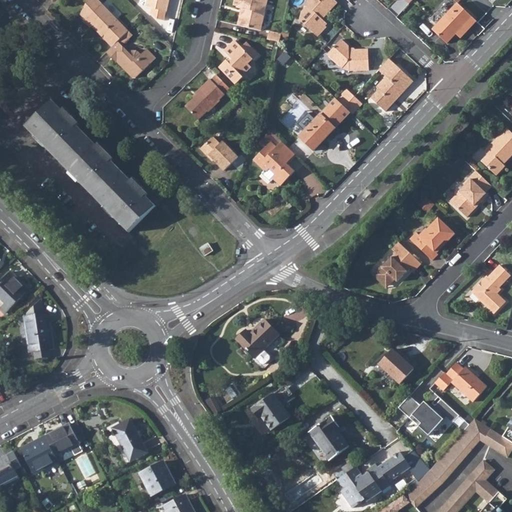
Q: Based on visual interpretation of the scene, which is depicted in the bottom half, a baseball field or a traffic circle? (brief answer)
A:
traffic circle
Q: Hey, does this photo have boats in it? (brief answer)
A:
No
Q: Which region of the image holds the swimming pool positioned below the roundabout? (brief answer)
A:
bottom left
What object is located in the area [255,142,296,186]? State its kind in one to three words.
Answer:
house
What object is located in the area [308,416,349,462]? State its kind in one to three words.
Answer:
house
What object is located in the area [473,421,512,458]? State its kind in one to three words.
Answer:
building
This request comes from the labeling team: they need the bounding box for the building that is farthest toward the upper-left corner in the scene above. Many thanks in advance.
[80,0,127,46]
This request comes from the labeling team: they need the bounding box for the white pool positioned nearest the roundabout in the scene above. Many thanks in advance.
[76,453,96,478]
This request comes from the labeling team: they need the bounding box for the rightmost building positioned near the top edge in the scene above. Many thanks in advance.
[432,2,476,45]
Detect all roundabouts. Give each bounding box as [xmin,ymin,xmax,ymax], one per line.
[89,306,170,388]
